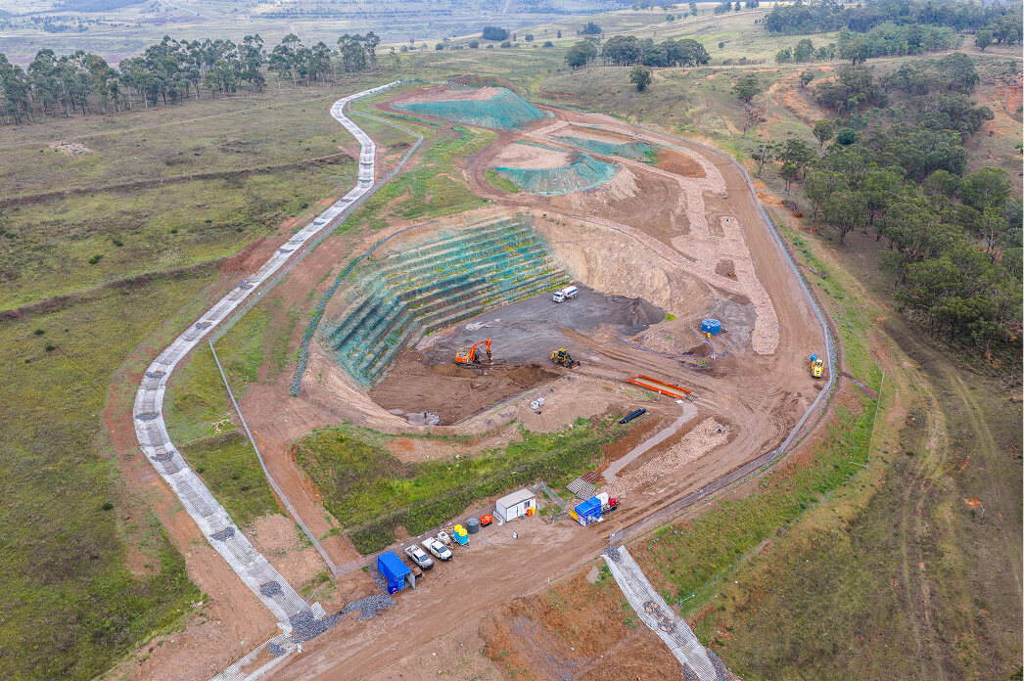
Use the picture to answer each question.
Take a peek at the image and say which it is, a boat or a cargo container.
cargo container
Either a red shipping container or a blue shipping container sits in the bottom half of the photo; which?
blue shipping container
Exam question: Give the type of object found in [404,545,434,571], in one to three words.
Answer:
truck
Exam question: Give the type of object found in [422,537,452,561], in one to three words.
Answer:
truck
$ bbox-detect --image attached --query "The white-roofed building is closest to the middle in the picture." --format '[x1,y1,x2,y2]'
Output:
[494,488,536,522]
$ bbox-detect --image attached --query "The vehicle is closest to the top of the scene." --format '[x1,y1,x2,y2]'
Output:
[556,286,581,300]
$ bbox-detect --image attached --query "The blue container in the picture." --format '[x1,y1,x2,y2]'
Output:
[376,552,414,592]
